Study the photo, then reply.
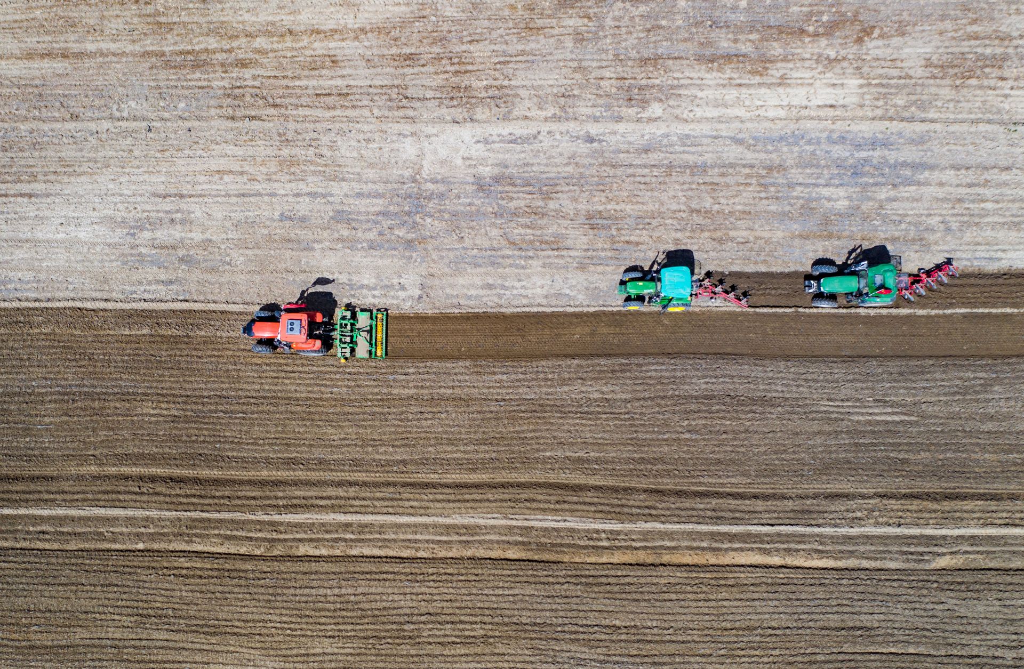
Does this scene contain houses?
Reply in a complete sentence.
No, there is no house in the image.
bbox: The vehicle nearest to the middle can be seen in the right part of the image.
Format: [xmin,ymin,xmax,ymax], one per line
[614,263,699,313]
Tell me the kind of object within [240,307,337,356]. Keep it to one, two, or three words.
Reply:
work vehicle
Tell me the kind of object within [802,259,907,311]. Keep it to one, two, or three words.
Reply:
work vehicle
